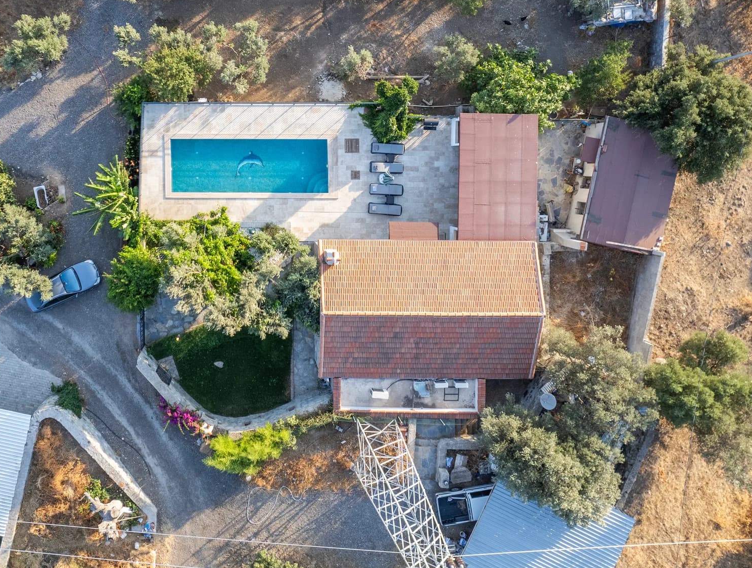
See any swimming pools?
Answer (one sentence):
Yes, this view includes a swimming pool.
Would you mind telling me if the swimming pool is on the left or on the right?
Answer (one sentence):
The swimming pool is on the left side of the image.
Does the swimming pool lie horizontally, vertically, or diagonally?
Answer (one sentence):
The swimming pool runs horizontally in the image.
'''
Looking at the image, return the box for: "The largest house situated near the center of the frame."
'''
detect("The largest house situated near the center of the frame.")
[317,238,546,424]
